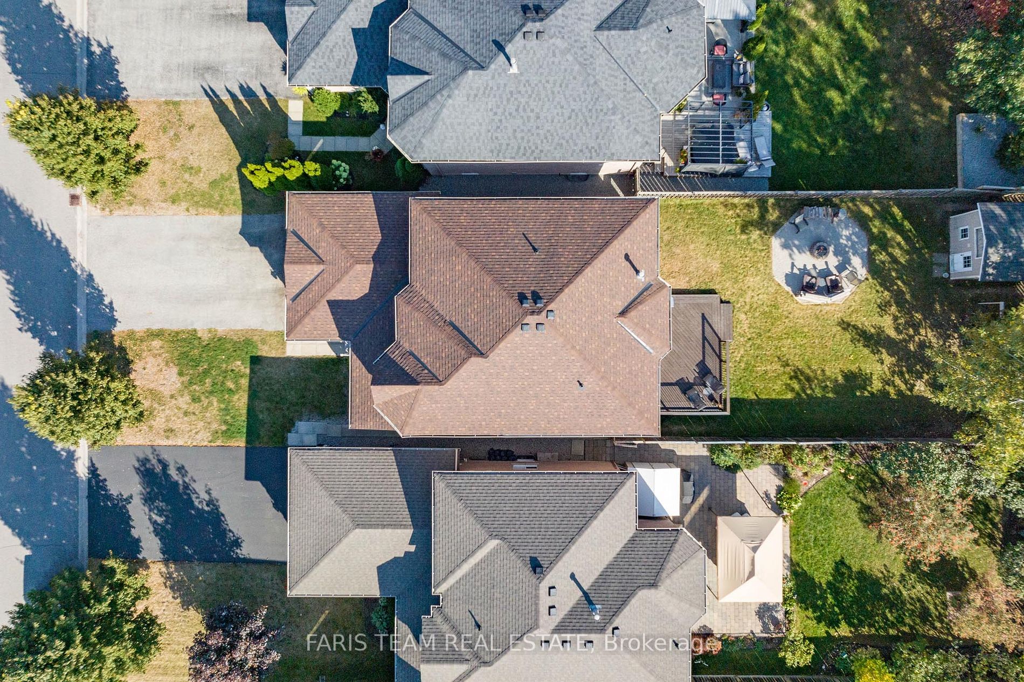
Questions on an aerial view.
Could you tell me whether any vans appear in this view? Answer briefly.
No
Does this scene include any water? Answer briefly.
No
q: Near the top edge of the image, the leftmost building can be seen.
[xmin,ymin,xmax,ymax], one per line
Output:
[285,0,707,191]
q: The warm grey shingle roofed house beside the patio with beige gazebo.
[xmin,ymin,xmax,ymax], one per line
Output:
[285,447,707,682]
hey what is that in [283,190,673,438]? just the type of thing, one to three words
house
